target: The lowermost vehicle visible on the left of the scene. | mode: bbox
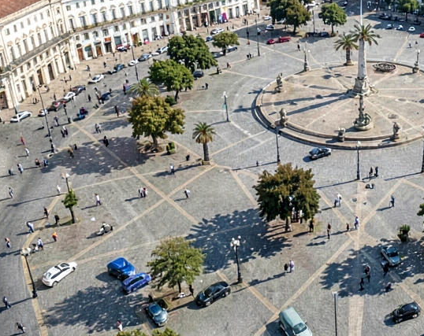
[142,296,166,323]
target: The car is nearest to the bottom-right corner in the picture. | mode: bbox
[388,299,418,323]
